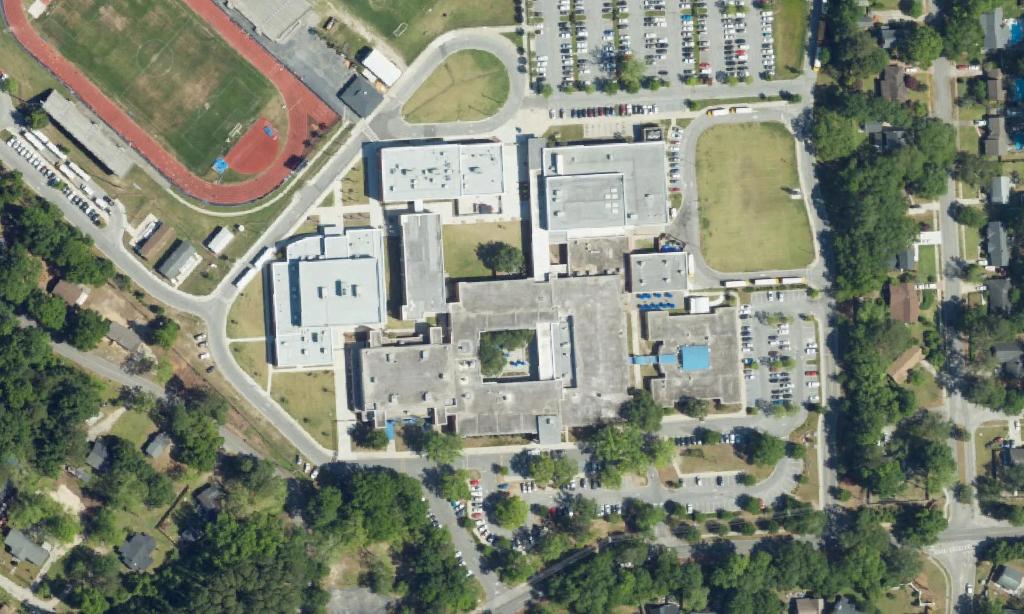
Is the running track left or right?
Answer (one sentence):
The running track sits on the left side.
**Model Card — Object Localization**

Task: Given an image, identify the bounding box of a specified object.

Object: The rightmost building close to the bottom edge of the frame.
[997,567,1023,590]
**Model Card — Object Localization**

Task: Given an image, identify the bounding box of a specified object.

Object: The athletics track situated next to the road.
[1,0,308,203]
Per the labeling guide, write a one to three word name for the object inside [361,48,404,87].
building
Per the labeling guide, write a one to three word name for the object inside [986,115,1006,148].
house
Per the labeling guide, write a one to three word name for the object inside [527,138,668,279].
building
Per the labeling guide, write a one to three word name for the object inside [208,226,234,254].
shed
